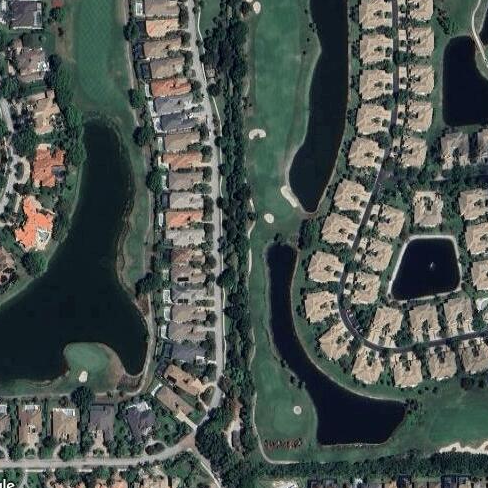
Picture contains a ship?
No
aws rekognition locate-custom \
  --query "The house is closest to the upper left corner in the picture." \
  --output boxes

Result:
[6,0,49,25]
